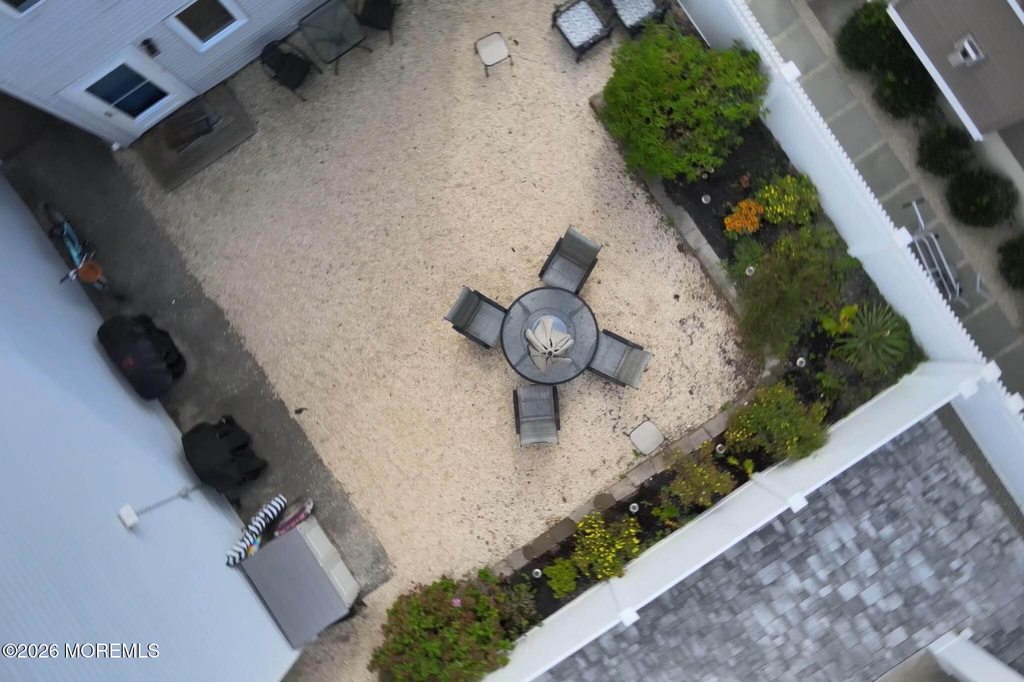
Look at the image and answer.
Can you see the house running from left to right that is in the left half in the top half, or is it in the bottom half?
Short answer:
top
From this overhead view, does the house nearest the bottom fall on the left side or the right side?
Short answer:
right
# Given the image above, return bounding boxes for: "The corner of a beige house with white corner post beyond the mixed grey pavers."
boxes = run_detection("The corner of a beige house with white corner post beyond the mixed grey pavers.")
[875,618,1019,682]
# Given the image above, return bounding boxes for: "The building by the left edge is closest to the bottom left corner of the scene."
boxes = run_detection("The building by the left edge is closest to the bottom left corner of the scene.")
[0,174,299,682]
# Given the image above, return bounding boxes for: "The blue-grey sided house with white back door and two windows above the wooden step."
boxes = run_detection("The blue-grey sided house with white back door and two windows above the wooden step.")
[0,0,330,151]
